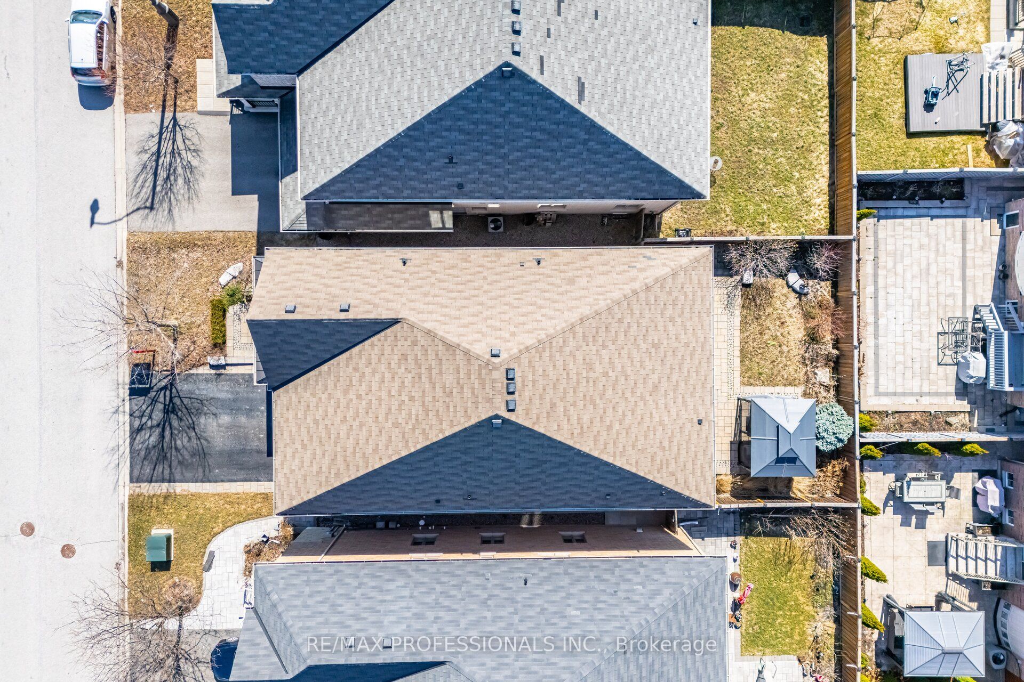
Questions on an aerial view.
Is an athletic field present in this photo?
No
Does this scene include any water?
No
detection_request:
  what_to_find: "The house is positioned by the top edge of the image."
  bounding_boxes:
[207,0,717,233]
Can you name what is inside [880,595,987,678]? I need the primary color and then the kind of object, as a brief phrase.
white gazebo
